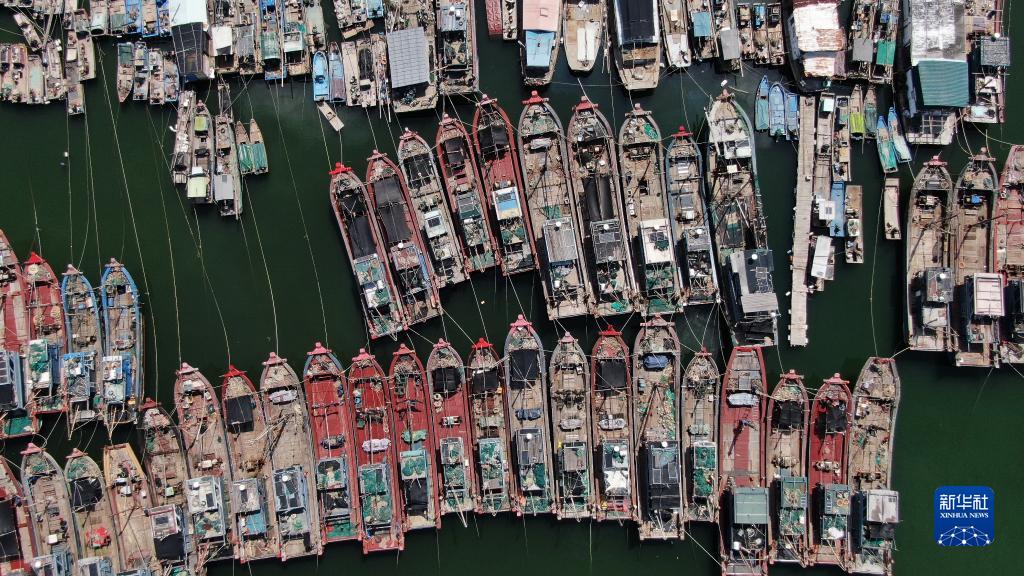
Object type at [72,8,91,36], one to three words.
boat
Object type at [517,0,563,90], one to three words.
boat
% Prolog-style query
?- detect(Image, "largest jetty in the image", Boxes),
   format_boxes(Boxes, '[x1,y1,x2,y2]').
[788,94,817,346]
